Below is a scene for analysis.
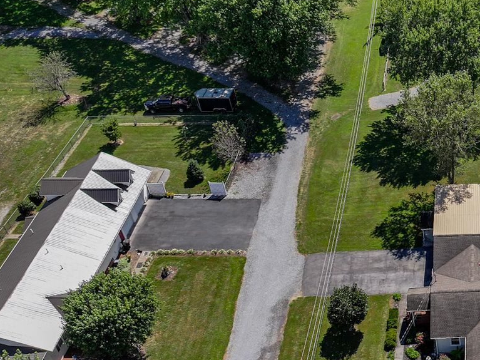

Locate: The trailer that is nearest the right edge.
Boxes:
[192,89,238,113]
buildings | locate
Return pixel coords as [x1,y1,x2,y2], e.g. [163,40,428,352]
[0,151,153,360]
[407,183,480,360]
